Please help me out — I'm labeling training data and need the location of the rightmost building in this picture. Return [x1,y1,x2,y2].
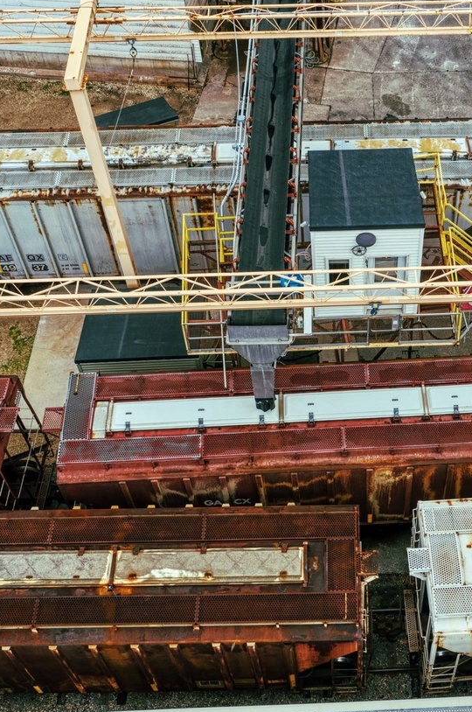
[290,148,440,322]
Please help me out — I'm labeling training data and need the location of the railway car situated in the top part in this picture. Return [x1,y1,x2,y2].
[0,118,472,290]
